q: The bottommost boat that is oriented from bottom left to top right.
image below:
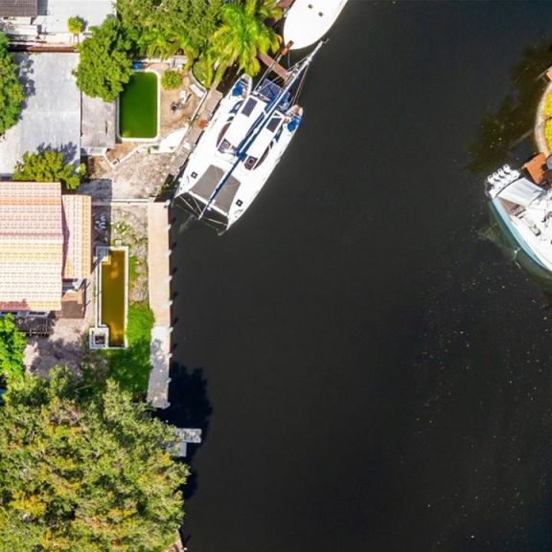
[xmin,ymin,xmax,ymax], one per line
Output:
[174,61,323,230]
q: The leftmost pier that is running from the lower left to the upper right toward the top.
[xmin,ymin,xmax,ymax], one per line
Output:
[154,87,220,181]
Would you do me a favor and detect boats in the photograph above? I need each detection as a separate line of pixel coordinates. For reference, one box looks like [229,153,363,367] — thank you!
[174,61,323,230]
[489,159,552,267]
[281,0,344,55]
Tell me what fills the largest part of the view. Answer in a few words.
water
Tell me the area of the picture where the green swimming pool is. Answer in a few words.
top left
